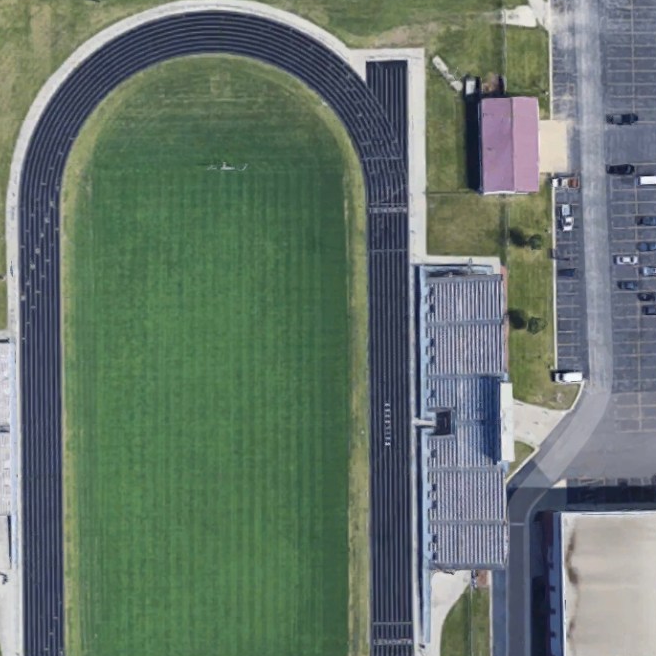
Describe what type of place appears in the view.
sports ground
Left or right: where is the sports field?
left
